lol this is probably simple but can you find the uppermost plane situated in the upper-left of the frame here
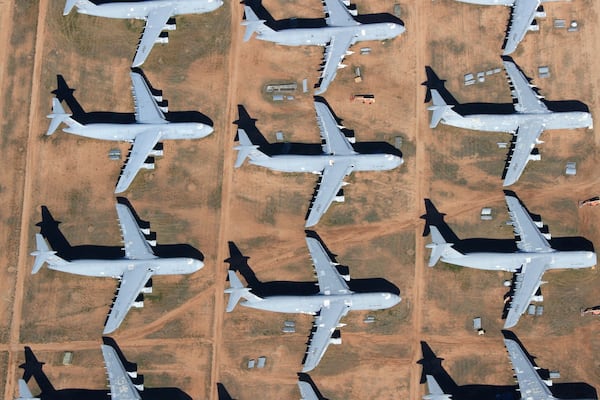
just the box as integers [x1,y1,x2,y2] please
[63,0,223,67]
